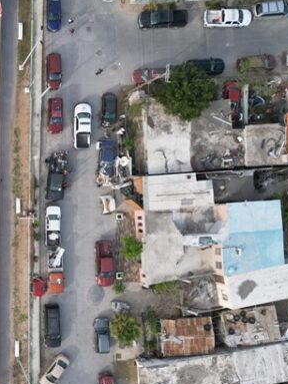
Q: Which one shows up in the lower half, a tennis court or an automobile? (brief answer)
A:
automobile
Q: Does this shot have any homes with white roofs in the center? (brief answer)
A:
Yes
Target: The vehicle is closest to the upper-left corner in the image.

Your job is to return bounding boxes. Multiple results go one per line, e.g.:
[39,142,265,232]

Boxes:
[44,0,62,34]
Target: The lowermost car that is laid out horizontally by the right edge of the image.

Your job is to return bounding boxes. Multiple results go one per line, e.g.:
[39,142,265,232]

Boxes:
[234,53,275,74]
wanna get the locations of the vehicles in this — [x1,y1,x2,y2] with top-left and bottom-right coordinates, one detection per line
[45,248,65,294]
[44,205,62,246]
[136,8,189,29]
[44,0,62,34]
[130,67,171,86]
[72,103,93,150]
[47,153,67,200]
[45,53,63,90]
[251,0,288,20]
[185,57,225,77]
[202,7,251,29]
[100,92,119,130]
[221,80,243,127]
[234,53,275,74]
[37,351,71,384]
[46,97,63,134]
[92,317,111,352]
[94,239,115,287]
[97,369,114,384]
[43,303,62,346]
